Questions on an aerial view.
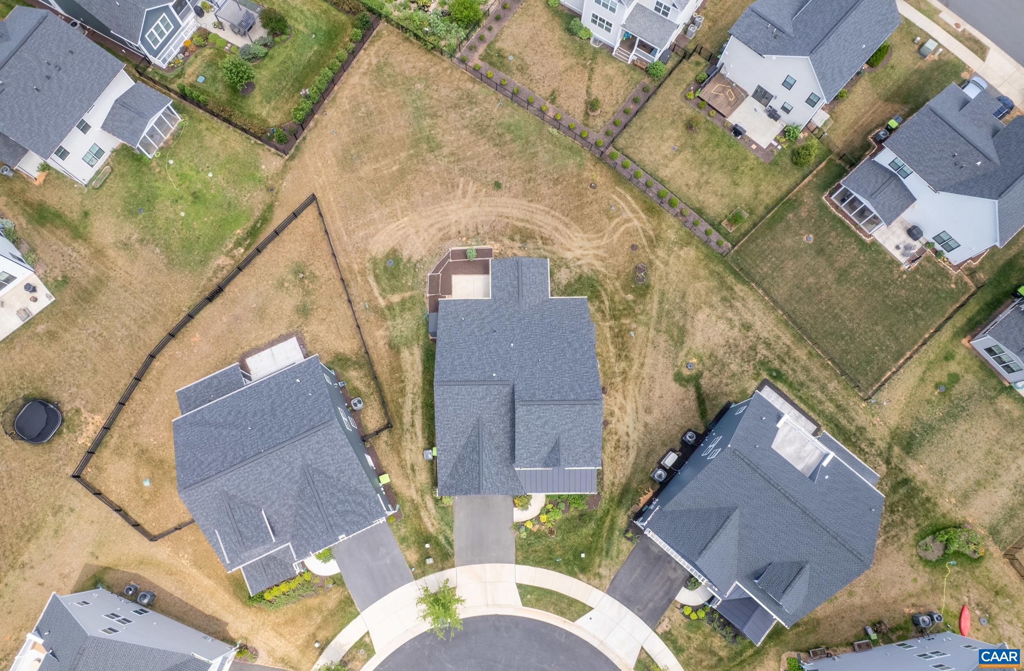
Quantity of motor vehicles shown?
2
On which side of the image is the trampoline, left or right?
left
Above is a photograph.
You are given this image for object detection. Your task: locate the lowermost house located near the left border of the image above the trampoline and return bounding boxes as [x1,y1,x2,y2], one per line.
[0,224,36,295]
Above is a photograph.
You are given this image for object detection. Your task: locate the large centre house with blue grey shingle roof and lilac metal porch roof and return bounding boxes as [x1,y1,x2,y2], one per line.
[428,255,604,498]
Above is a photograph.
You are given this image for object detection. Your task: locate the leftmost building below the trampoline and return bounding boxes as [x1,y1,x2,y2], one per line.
[14,576,244,671]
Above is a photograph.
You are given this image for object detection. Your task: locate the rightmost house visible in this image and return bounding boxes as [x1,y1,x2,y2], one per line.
[969,295,1024,385]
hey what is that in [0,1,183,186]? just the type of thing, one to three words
house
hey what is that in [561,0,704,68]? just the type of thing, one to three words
house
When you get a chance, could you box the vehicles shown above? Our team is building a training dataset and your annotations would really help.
[993,88,1019,124]
[961,70,989,97]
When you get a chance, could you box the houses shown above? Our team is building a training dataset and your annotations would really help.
[428,255,604,498]
[969,295,1024,385]
[0,1,183,186]
[0,224,36,295]
[172,354,401,596]
[633,389,885,648]
[716,0,906,135]
[831,80,1024,267]
[798,631,1024,671]
[561,0,704,68]
[14,576,244,671]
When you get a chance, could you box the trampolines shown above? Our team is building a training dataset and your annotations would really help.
[0,393,76,447]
